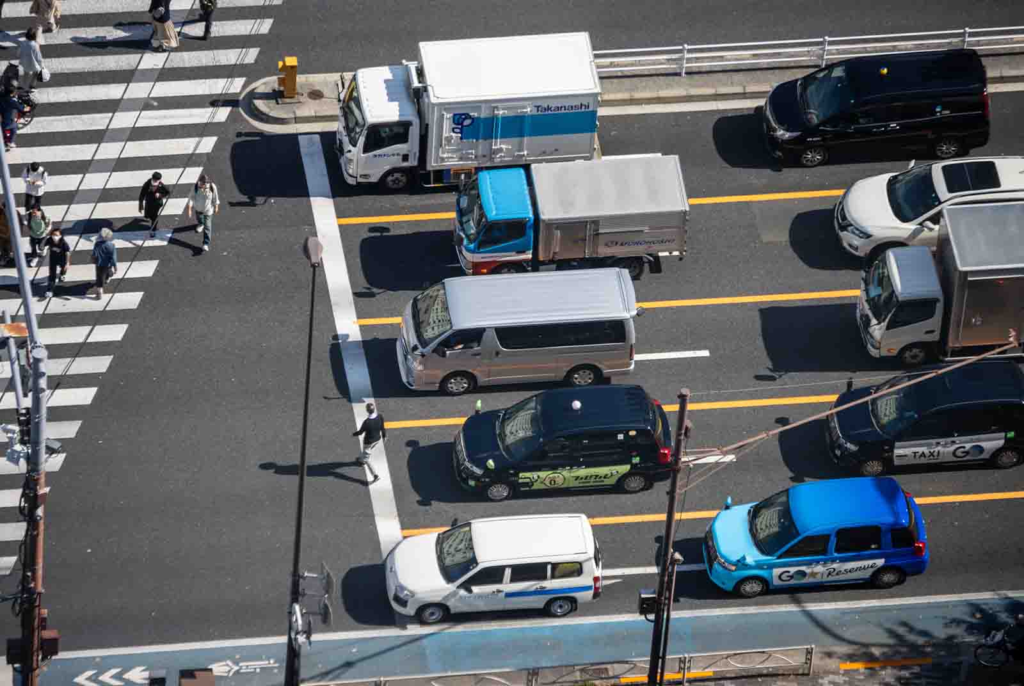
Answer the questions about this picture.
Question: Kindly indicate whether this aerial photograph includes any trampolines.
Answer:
No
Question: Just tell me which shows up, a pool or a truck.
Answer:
truck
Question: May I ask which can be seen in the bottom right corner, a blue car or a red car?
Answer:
blue car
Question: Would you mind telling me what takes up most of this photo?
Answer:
paved ground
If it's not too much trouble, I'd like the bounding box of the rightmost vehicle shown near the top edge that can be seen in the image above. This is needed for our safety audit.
[333,32,600,198]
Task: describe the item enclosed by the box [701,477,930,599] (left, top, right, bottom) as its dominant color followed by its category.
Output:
blue car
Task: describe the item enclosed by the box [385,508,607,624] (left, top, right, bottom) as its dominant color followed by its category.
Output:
white car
